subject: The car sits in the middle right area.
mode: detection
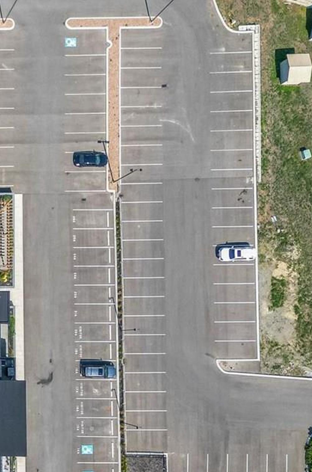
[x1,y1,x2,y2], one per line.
[216,245,257,263]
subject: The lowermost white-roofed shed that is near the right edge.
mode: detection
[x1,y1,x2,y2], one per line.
[278,54,312,88]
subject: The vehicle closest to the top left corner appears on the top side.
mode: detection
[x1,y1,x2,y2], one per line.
[71,150,108,167]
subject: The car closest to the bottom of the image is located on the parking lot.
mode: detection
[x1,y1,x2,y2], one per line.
[79,361,117,379]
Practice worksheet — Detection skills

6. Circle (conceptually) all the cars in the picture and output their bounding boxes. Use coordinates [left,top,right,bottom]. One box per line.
[71,150,108,167]
[79,361,117,379]
[216,245,257,263]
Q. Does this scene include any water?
No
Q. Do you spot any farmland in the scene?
No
